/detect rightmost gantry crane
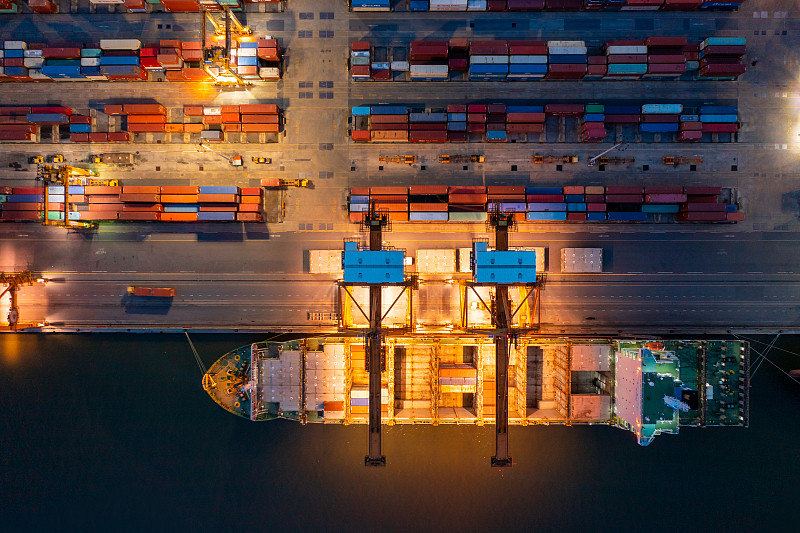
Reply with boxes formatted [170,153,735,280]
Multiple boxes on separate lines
[445,198,552,468]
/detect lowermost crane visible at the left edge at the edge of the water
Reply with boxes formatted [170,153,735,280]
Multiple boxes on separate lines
[0,274,44,330]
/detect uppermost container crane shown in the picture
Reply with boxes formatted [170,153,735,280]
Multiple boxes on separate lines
[195,3,252,84]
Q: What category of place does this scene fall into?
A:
port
